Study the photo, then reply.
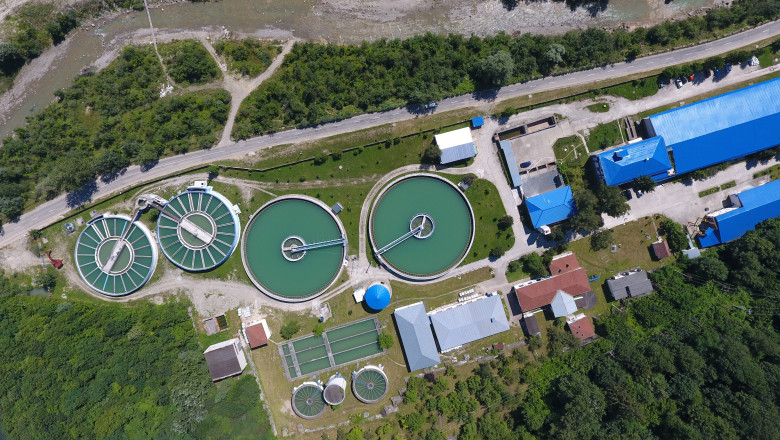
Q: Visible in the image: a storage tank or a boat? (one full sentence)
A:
Of the two, only a storage tank appears.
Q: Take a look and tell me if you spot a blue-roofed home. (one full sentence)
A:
Yes, a blue-roofed home appears in the view.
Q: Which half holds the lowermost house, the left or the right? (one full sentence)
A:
The lowermost house is on the left side of the image.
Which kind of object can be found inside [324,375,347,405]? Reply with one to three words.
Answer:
silo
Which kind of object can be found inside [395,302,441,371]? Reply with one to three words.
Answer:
building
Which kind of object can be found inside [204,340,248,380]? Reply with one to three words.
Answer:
house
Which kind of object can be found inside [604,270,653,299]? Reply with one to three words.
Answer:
barn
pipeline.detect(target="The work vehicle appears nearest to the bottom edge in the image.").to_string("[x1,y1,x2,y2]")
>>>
[49,248,65,269]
